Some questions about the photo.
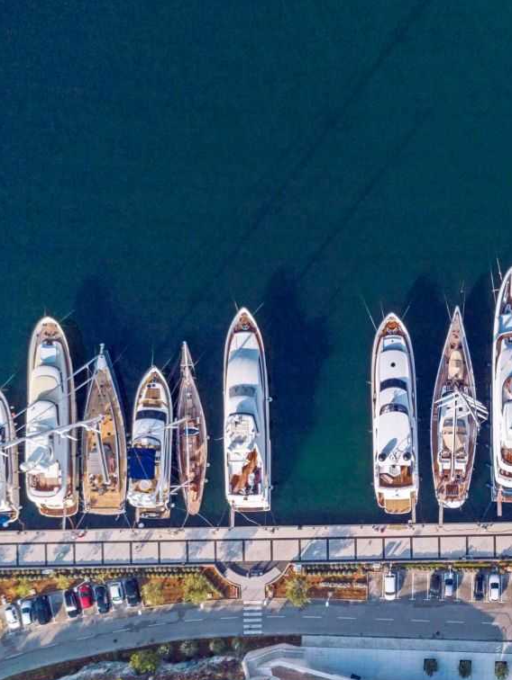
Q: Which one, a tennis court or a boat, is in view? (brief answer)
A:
boat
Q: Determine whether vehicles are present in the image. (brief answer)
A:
Yes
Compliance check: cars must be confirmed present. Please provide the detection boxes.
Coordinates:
[488,573,500,600]
[472,573,485,600]
[111,581,126,604]
[80,584,95,609]
[430,575,441,600]
[442,571,455,596]
[96,586,111,612]
[65,589,82,617]
[35,593,54,624]
[127,578,141,605]
[5,602,22,626]
[21,599,36,625]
